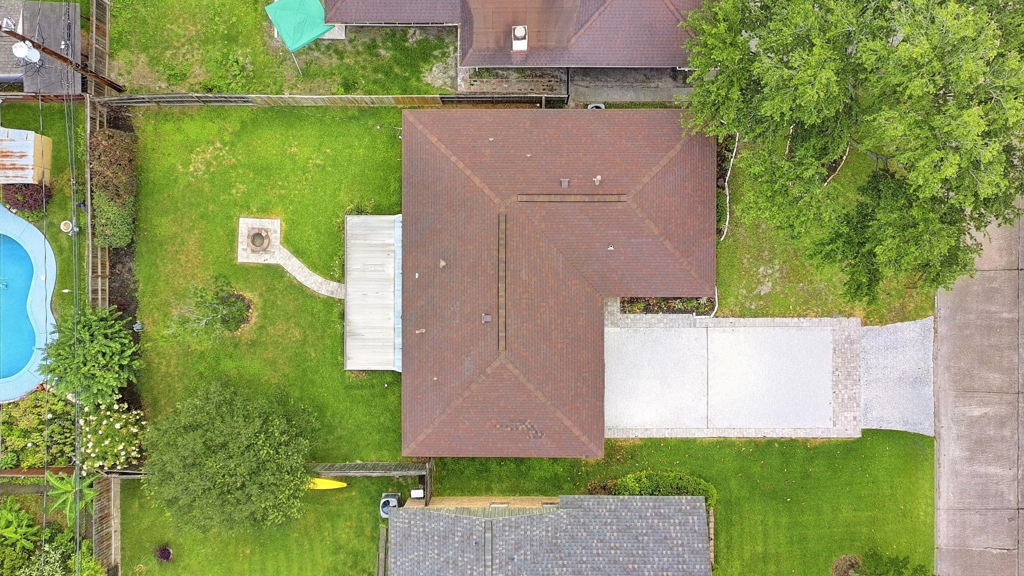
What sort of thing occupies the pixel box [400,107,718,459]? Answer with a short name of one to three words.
house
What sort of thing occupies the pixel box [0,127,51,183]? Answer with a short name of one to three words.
shed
